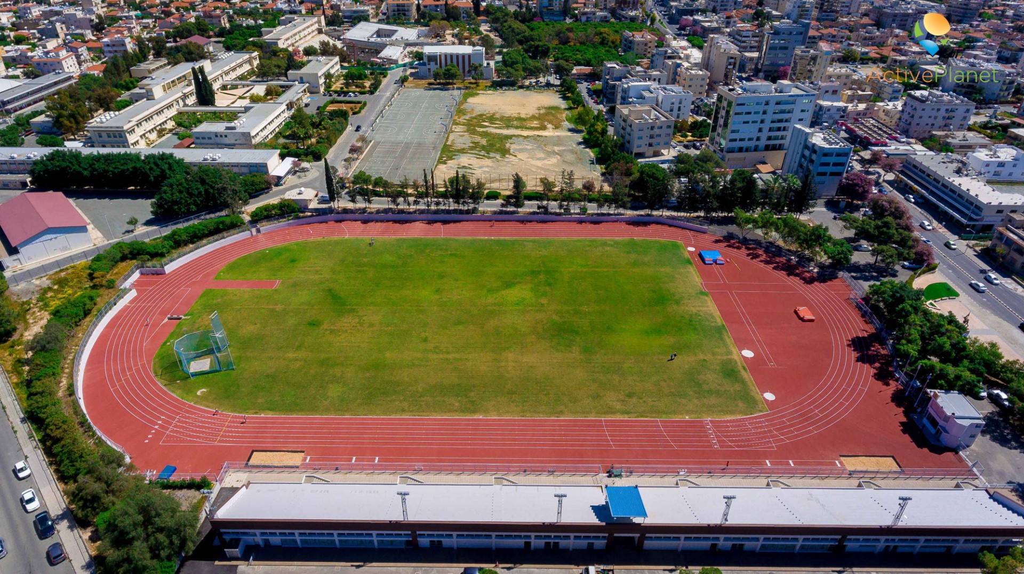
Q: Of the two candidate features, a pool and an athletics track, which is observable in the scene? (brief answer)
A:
athletics track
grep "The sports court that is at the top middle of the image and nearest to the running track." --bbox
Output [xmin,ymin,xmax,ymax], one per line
[356,88,464,183]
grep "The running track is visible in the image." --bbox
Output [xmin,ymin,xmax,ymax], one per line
[82,220,978,480]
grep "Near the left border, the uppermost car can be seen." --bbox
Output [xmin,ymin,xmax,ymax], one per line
[12,458,31,479]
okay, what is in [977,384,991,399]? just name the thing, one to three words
car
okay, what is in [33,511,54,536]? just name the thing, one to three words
car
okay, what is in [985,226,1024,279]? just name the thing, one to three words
house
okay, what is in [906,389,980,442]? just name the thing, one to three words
shed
